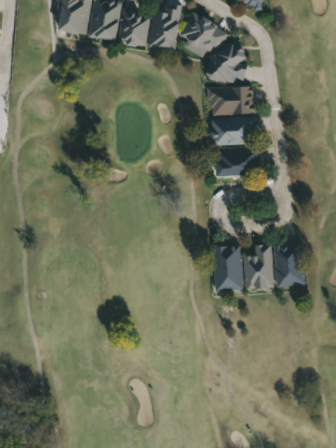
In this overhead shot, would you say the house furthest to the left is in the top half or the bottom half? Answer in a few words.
top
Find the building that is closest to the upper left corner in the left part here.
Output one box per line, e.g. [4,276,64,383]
[53,0,90,36]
